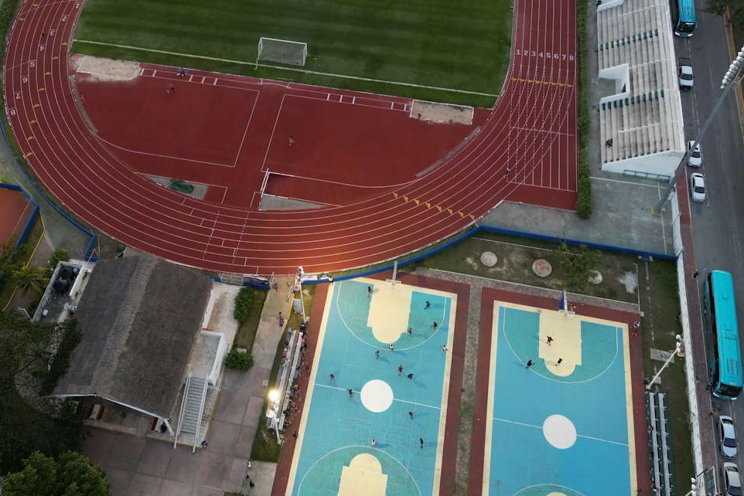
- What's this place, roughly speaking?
sports ground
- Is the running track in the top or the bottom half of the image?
top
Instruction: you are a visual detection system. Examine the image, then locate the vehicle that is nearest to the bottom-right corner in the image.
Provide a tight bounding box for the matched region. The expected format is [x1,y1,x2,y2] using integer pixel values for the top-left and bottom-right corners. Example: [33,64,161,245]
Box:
[723,461,744,496]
